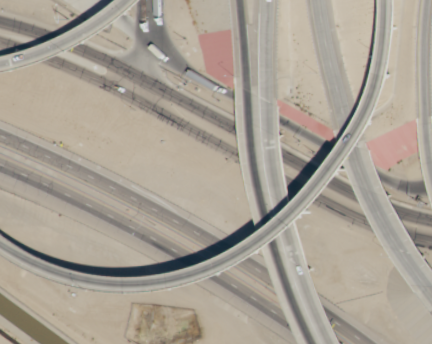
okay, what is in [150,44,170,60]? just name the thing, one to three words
vehicle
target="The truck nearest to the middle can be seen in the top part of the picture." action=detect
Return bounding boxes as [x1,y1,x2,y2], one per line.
[185,68,226,94]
